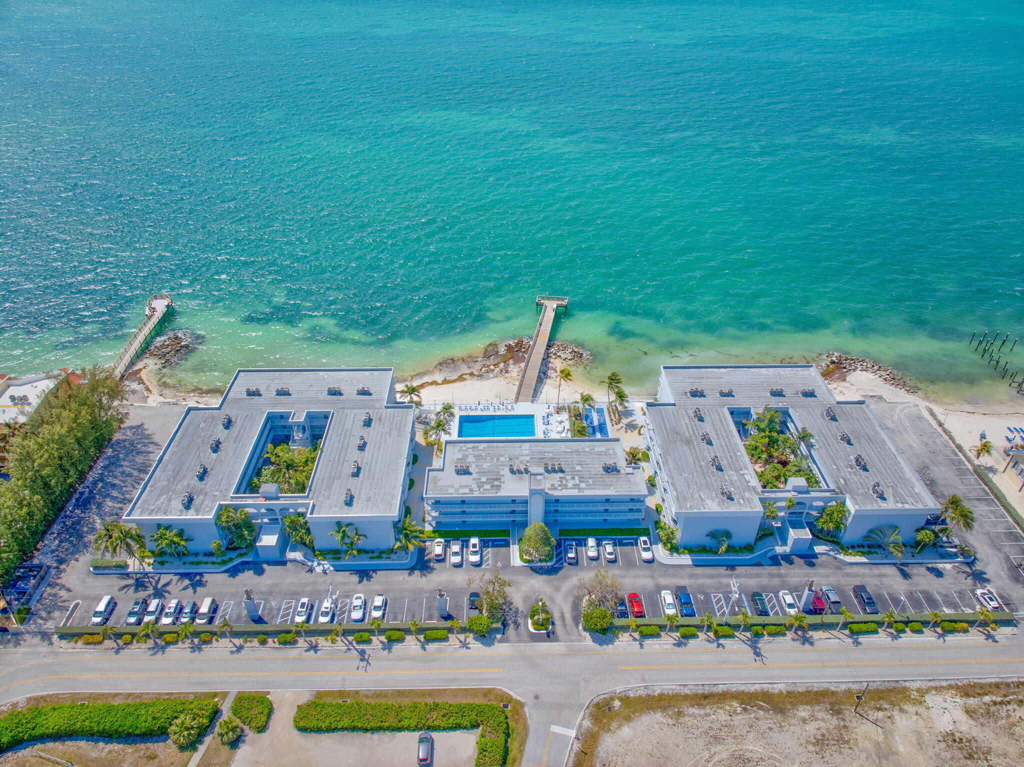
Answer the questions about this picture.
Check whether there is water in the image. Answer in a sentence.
Yes, water shows up in the scene.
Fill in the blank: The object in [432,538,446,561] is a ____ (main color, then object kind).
white car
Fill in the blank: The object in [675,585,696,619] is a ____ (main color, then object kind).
blue truck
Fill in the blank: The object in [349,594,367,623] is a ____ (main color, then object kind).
white car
